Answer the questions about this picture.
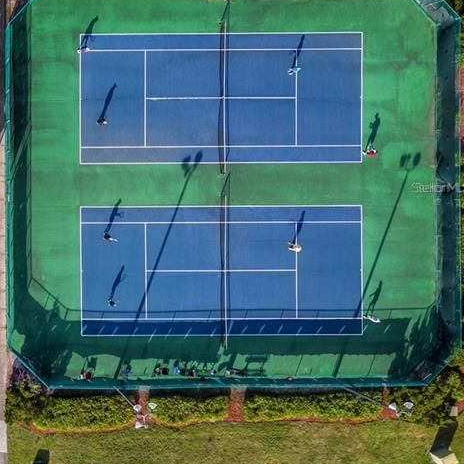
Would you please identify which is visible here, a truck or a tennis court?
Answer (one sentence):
Of the two, only a tennis court appears.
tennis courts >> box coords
[80,205,363,336]
[80,32,363,164]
